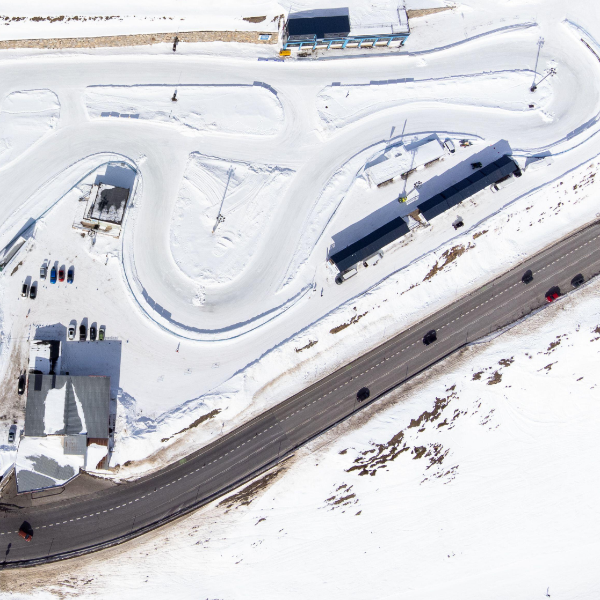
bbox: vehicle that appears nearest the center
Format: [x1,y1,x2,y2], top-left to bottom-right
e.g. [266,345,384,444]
[336,269,356,284]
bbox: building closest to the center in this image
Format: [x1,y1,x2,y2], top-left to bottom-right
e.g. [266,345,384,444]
[327,216,410,275]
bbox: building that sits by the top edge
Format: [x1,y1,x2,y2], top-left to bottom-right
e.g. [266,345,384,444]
[281,7,411,49]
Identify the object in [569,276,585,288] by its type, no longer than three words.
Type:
vehicle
